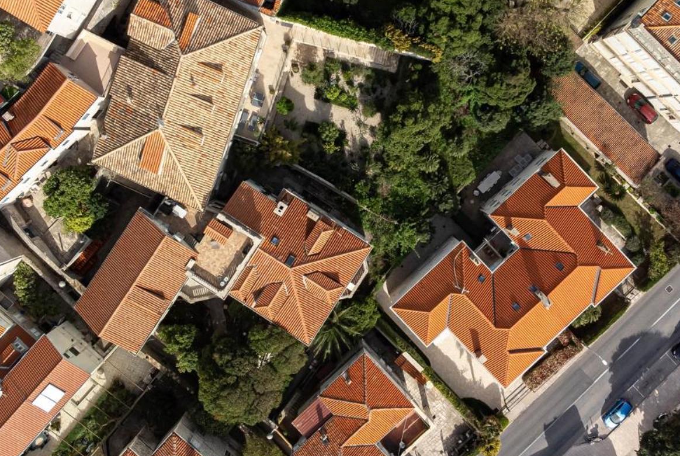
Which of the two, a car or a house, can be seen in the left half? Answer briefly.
house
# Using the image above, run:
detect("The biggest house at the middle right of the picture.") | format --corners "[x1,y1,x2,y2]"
[389,147,637,388]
